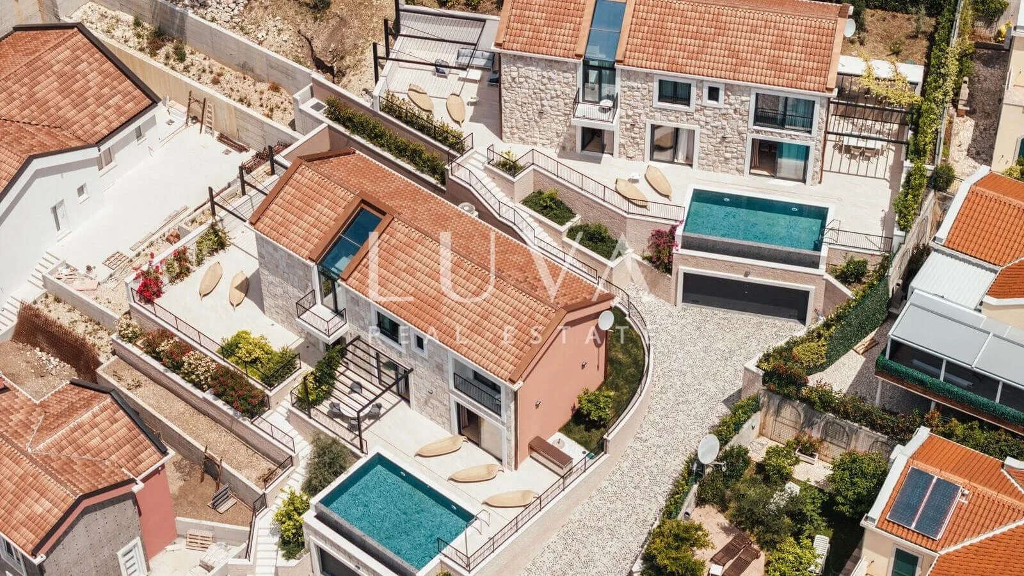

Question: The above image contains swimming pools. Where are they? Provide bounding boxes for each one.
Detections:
[302,446,484,576]
[675,184,834,274]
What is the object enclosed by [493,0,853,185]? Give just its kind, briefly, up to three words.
house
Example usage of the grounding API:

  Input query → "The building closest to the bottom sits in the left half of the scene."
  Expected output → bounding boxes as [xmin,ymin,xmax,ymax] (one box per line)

[304,523,392,576]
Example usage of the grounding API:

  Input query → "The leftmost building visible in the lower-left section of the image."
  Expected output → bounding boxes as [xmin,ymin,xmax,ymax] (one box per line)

[0,368,175,576]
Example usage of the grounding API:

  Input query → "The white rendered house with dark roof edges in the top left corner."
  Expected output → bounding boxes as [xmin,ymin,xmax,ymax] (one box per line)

[0,24,164,278]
